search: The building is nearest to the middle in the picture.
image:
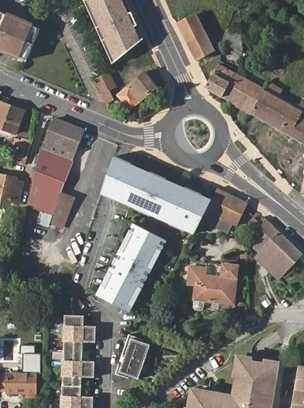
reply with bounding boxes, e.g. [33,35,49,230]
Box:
[102,154,212,234]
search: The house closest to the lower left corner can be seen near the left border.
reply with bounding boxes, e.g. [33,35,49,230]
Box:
[0,371,38,398]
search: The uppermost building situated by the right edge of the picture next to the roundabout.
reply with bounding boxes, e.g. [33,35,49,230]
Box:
[207,64,304,144]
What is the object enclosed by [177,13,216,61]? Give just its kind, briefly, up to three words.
house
